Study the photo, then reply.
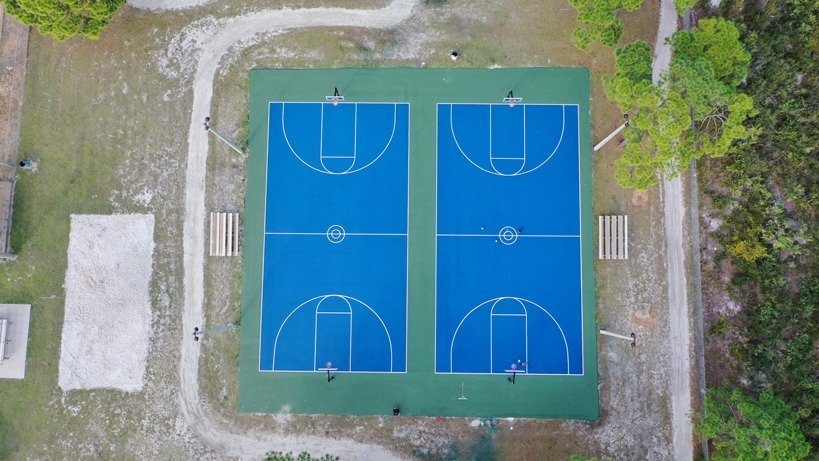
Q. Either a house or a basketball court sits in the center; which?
basketball court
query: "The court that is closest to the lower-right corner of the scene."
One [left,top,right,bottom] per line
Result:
[435,103,584,375]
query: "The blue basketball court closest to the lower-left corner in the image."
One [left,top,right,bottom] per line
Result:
[259,102,410,373]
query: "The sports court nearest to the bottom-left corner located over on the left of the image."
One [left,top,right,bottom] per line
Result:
[59,212,156,391]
